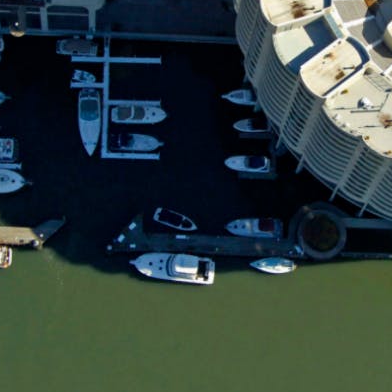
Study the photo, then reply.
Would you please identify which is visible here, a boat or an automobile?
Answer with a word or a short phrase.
boat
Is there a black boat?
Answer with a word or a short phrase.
Yes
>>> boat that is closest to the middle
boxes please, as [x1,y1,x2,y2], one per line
[152,205,196,230]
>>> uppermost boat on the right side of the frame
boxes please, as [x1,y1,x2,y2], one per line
[221,88,255,105]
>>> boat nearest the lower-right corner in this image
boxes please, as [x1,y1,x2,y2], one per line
[250,257,296,273]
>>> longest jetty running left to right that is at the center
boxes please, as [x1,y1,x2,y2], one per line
[108,213,296,258]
